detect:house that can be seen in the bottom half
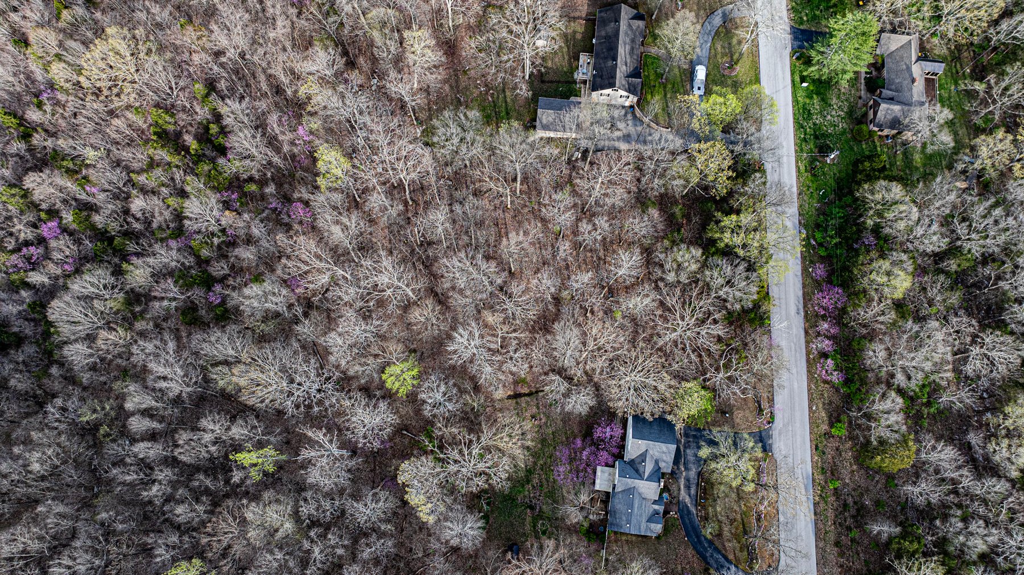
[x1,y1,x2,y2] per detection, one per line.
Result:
[603,413,677,537]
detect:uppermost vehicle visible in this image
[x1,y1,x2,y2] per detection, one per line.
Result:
[694,62,708,94]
